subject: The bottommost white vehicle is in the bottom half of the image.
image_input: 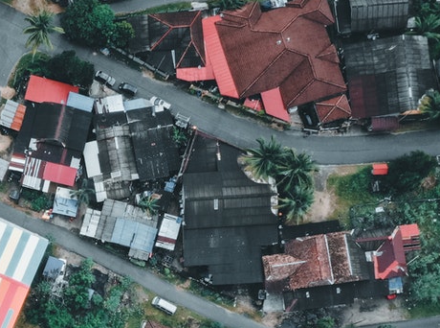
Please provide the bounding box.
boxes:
[153,297,176,314]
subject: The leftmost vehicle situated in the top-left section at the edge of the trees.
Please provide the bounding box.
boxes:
[92,69,118,87]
